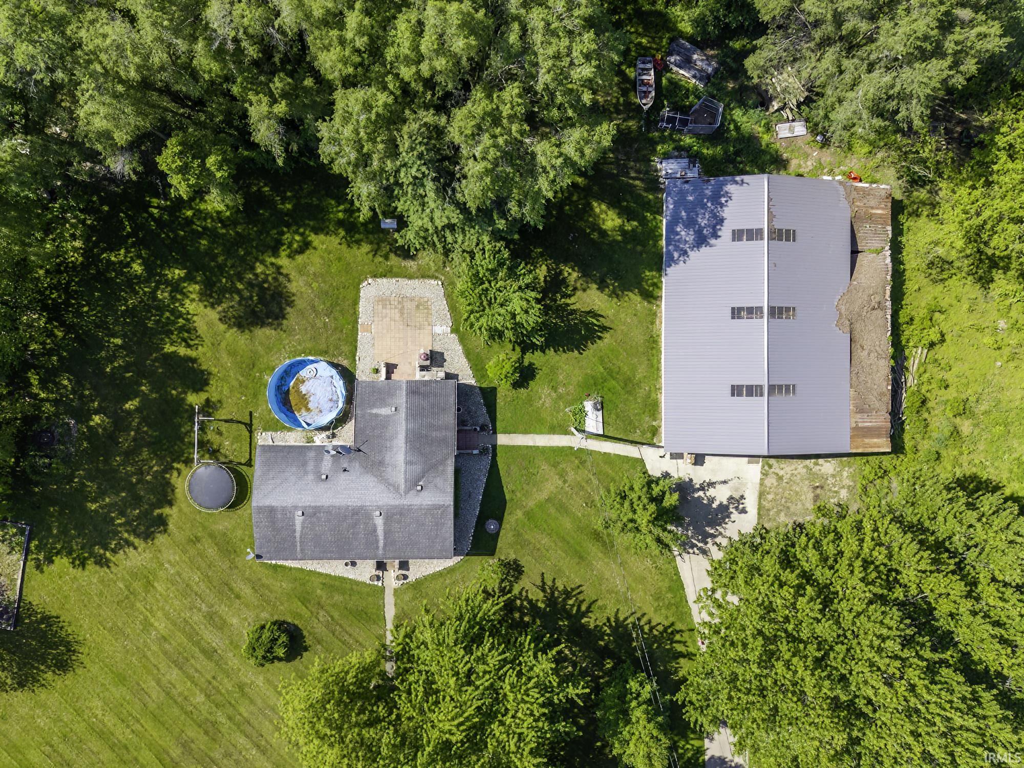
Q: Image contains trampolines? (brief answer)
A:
Yes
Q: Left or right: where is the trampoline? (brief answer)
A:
left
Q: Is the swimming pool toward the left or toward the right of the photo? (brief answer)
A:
left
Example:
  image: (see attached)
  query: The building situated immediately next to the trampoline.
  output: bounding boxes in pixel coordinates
[249,380,458,561]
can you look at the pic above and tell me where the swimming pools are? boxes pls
[266,356,350,431]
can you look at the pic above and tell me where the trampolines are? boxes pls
[185,463,236,512]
